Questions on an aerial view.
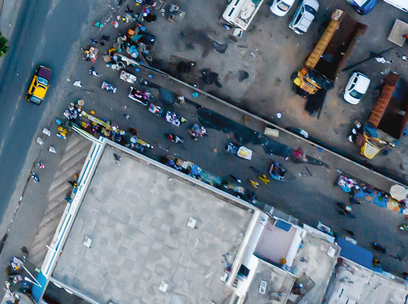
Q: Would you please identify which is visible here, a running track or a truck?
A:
truck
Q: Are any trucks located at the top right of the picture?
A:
Yes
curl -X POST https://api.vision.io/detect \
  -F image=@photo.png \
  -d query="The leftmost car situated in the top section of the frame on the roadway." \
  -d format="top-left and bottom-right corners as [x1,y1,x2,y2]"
[25,64,51,104]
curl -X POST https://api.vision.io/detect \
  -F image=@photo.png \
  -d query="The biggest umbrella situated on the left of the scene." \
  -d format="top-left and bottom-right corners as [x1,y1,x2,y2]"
[139,29,158,48]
